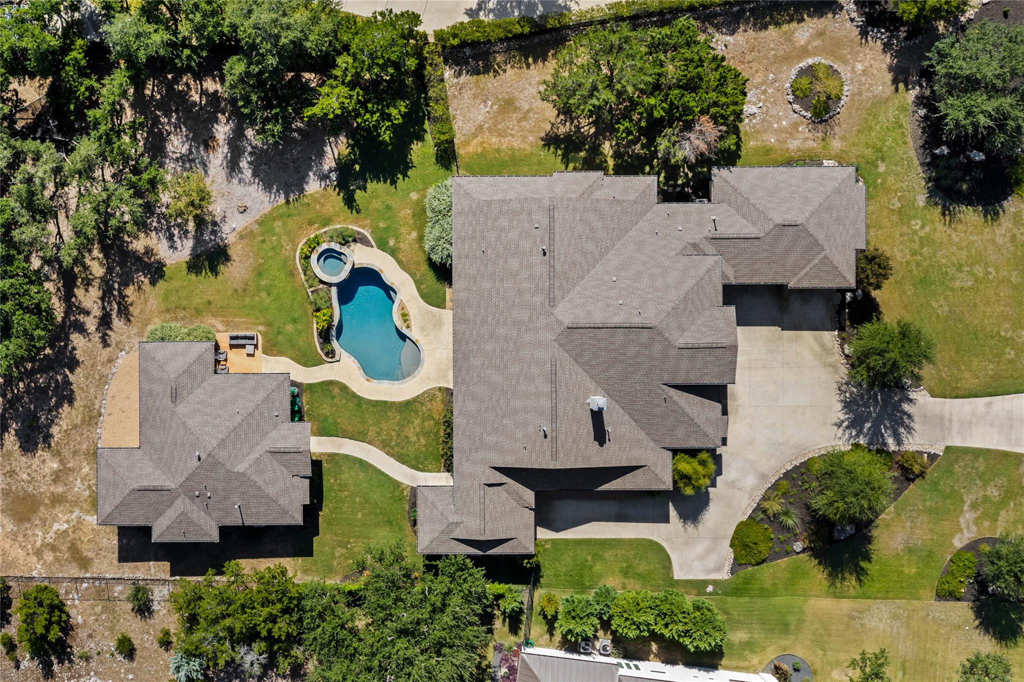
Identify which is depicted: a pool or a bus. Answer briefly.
pool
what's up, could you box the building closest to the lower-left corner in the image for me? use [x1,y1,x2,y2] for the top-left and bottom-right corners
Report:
[95,341,312,544]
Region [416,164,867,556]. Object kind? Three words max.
house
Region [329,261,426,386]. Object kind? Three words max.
swimming pool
